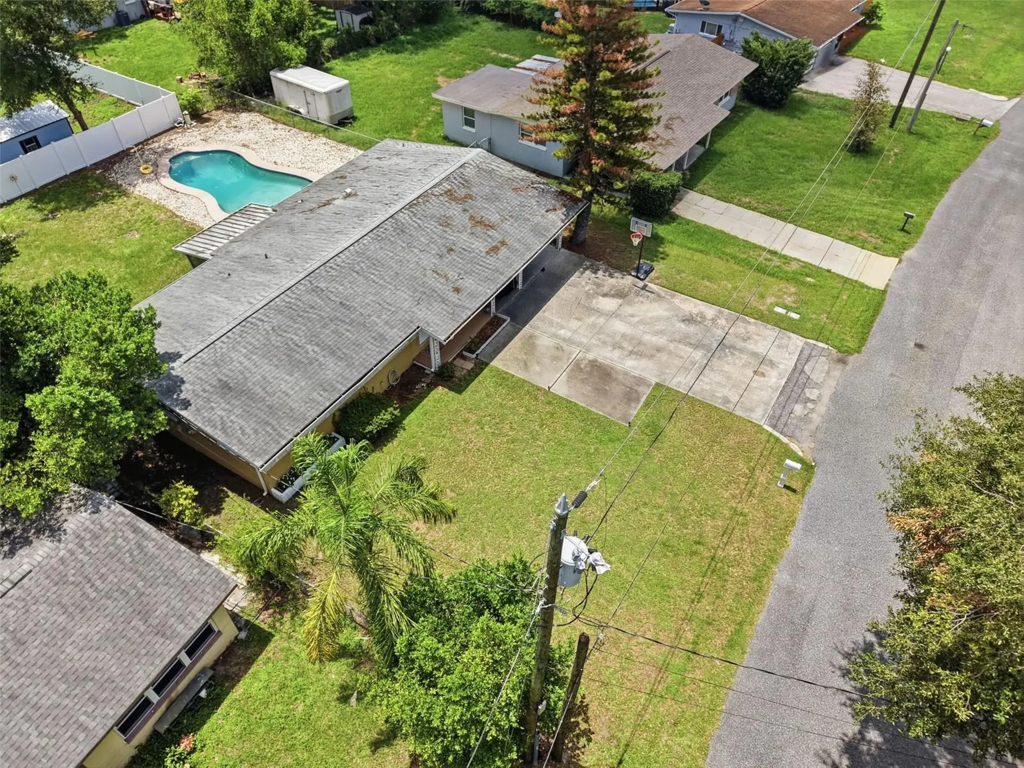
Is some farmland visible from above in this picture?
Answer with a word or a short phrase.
No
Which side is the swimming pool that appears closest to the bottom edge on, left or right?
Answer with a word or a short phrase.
left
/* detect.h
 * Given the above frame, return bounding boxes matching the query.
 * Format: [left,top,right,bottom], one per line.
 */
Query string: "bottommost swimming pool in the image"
[157,144,320,219]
